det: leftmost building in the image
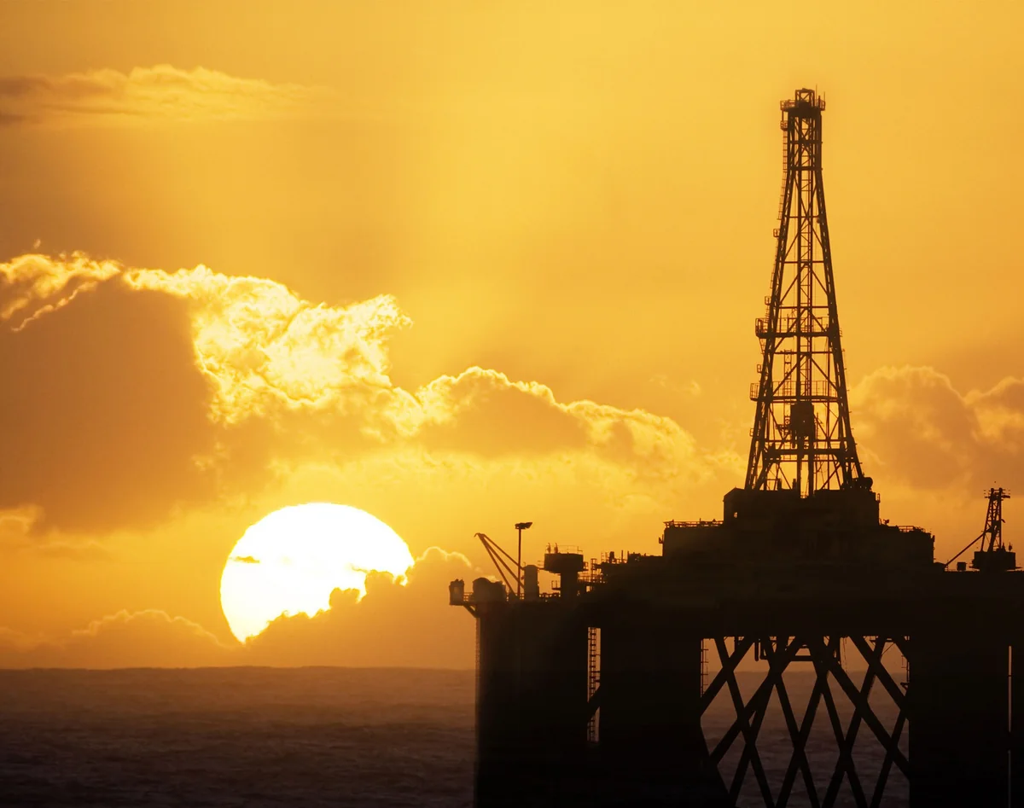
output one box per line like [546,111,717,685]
[450,579,464,602]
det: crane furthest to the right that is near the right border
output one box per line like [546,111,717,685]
[944,488,1017,571]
